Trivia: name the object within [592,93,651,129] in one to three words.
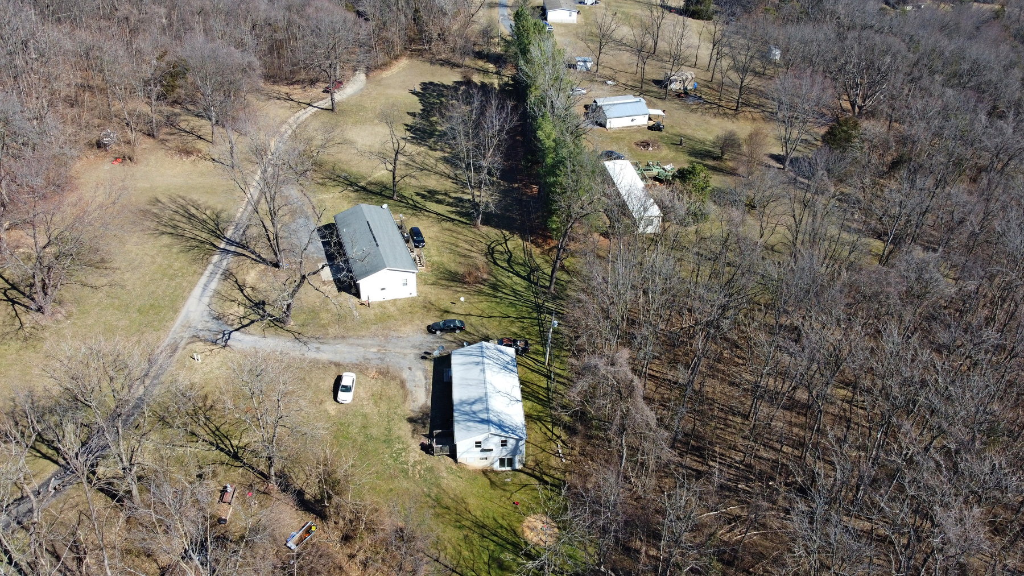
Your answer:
barn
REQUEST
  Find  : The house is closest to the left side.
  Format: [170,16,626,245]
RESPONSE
[334,203,419,298]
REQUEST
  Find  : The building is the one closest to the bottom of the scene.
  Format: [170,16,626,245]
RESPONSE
[452,343,528,467]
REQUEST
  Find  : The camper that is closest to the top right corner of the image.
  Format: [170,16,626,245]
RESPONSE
[670,74,694,90]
